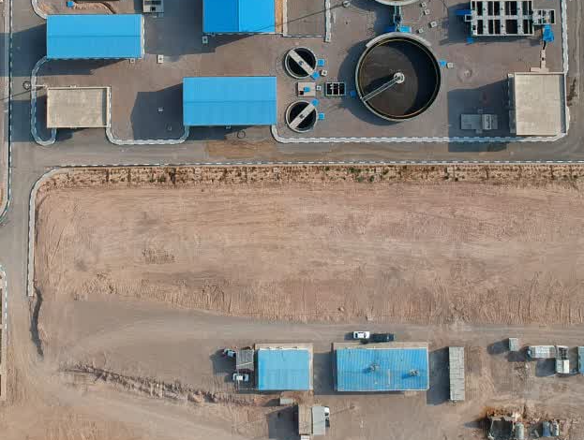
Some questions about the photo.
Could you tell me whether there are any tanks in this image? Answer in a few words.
Yes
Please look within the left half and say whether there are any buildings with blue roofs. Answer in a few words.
Yes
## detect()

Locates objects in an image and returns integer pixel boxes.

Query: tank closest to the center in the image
[284,99,317,132]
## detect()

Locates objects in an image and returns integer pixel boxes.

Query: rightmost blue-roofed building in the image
[332,342,428,391]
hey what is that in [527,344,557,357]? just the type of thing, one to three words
vehicle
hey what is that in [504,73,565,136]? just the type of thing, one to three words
building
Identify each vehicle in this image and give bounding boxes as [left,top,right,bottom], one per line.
[352,330,370,339]
[232,372,249,380]
[527,344,557,357]
[554,343,568,373]
[222,346,236,357]
[371,332,392,342]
